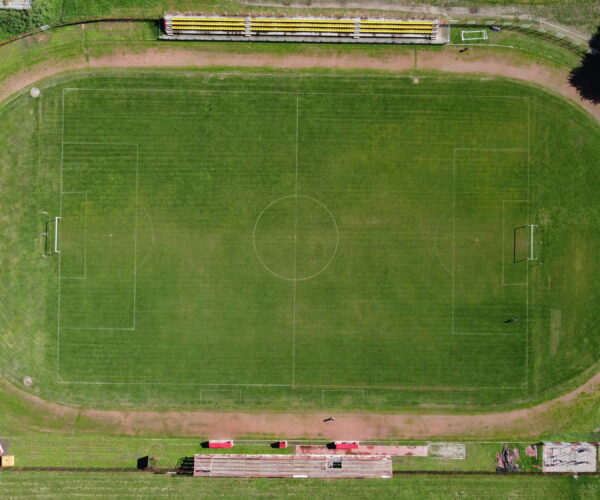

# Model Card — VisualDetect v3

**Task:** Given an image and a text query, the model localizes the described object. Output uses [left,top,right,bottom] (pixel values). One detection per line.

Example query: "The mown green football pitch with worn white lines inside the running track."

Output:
[43,79,550,405]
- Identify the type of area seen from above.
sports ground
